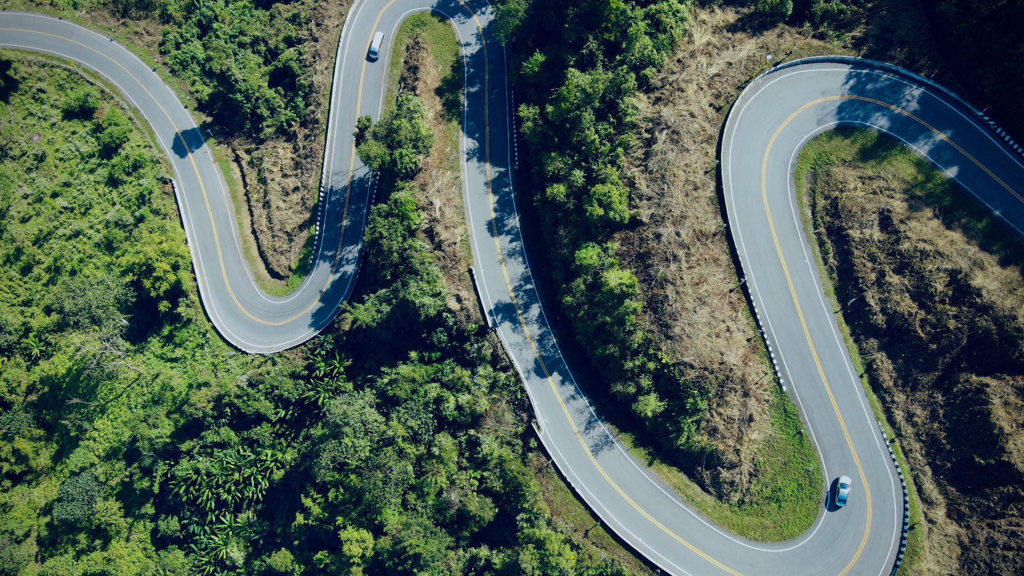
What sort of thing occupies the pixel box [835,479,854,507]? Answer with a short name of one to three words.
car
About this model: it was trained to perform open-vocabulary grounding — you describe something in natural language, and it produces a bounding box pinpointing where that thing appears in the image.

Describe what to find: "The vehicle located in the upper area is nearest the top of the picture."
[367,30,382,60]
